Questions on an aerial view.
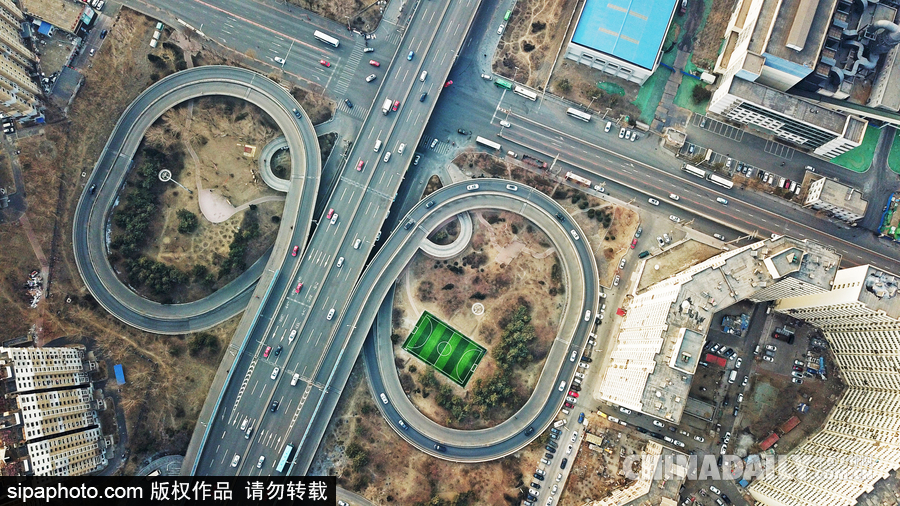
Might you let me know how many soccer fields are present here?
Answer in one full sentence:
I count just 1 soccer field.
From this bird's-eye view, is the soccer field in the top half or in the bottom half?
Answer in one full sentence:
Seen from above, the soccer field lies in the bottom half of the view.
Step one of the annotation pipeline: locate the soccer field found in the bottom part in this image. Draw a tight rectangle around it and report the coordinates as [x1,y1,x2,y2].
[401,309,488,387]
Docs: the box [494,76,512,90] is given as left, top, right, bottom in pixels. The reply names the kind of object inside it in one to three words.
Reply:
vehicle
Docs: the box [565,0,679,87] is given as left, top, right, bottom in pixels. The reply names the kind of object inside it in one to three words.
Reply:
building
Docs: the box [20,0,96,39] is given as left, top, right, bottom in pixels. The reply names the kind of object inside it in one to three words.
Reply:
building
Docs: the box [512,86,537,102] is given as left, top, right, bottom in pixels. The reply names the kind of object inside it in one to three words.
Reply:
vehicle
